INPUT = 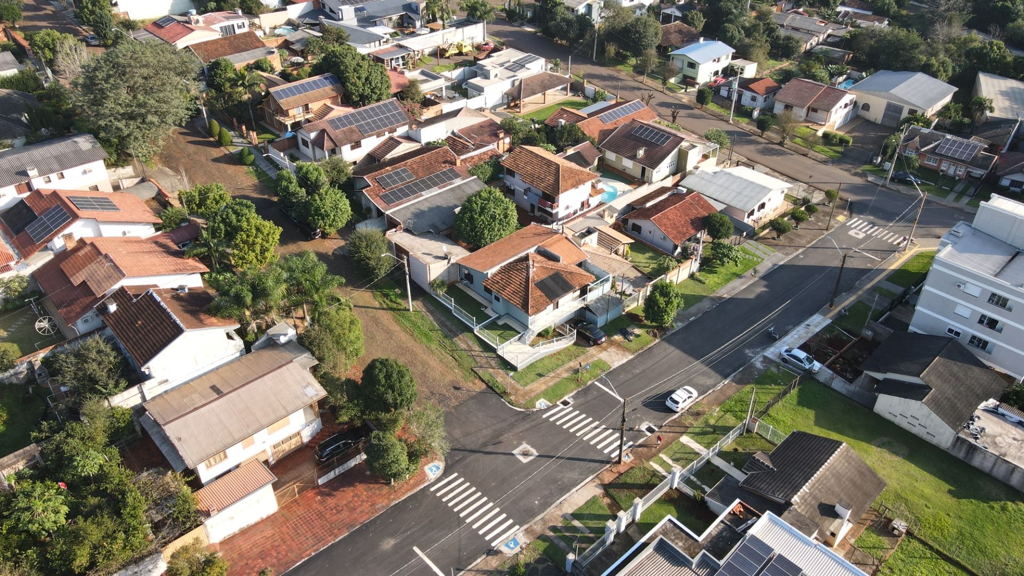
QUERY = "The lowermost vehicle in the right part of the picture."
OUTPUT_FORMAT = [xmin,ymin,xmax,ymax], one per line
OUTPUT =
[663,386,700,413]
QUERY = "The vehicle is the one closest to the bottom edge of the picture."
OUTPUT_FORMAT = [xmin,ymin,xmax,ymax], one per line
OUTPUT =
[317,425,369,458]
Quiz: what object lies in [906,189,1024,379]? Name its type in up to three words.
building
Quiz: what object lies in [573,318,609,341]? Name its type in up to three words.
car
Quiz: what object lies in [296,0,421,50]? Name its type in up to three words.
house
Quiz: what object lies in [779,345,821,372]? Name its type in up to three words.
car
